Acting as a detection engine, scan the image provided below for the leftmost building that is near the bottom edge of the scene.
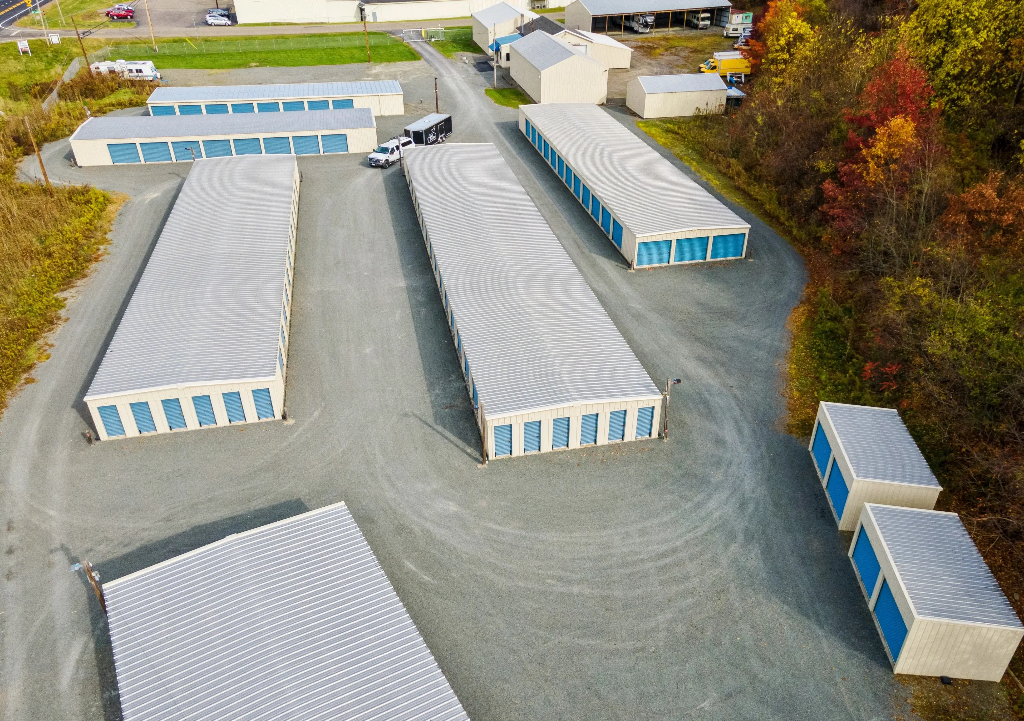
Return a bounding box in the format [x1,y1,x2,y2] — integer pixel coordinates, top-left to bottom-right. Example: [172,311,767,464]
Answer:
[100,499,457,721]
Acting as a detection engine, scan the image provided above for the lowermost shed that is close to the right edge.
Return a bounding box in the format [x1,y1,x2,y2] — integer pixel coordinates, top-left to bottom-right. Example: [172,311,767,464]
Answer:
[845,500,1024,684]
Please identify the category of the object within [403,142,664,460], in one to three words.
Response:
building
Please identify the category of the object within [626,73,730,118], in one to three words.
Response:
barn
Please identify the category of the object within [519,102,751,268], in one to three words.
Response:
building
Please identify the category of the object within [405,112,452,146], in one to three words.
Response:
trailer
